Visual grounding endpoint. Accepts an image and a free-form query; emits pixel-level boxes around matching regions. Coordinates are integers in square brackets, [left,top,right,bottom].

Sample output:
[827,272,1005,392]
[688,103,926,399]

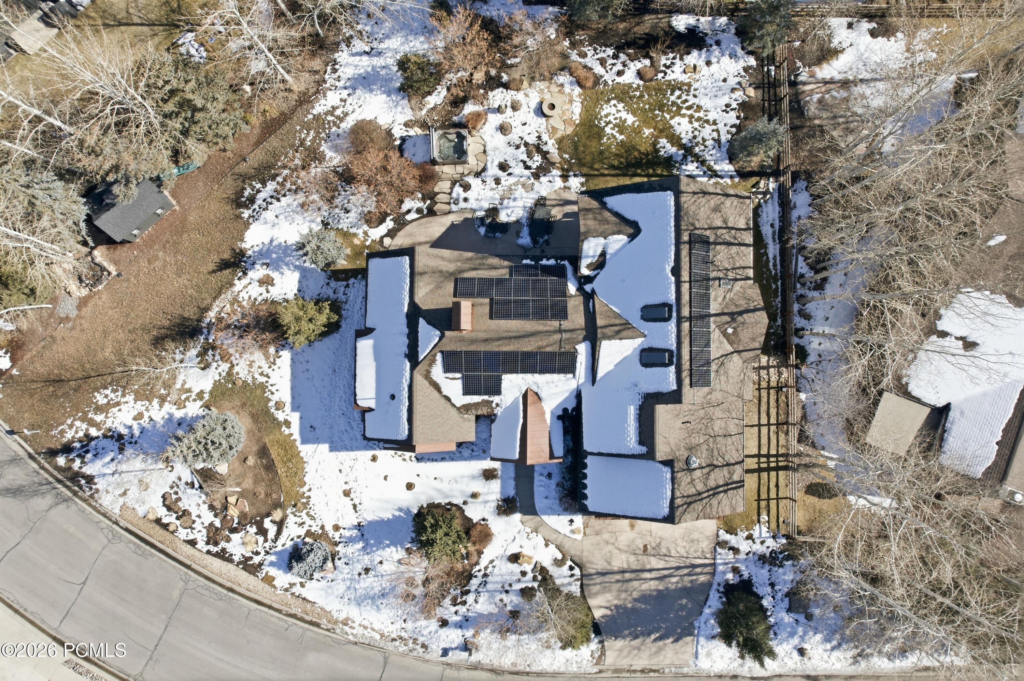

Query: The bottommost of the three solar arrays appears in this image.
[445,350,577,395]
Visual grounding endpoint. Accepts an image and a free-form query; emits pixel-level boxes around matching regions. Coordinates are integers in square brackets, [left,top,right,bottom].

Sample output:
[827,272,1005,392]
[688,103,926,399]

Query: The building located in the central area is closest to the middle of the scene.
[354,176,770,525]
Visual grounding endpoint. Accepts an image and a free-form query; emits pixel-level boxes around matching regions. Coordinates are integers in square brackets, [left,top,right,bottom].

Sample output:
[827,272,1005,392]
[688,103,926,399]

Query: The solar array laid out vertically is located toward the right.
[692,233,711,390]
